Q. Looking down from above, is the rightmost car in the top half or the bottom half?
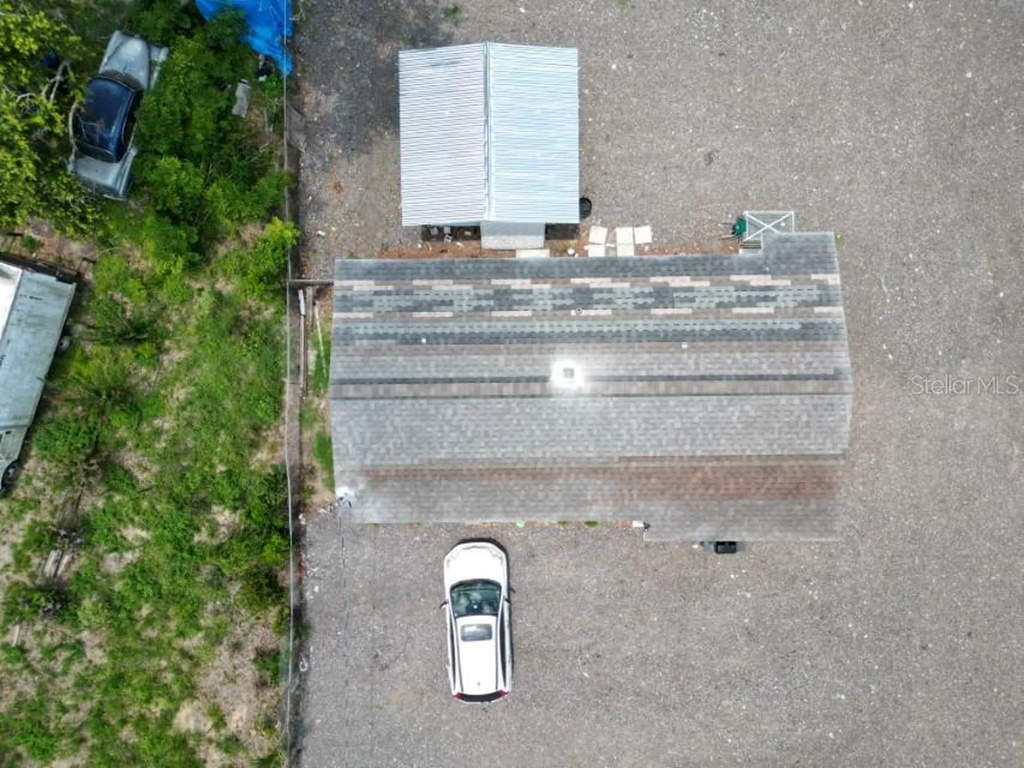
bottom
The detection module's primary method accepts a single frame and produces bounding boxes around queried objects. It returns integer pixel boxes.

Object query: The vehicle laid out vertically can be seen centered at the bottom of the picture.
[440,540,514,706]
